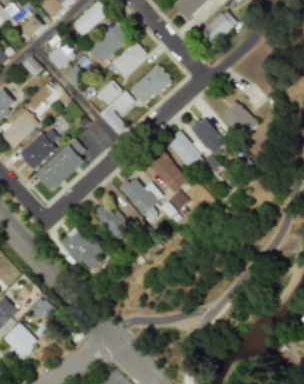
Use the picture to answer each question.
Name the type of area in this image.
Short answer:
residential area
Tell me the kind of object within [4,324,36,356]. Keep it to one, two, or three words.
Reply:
house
